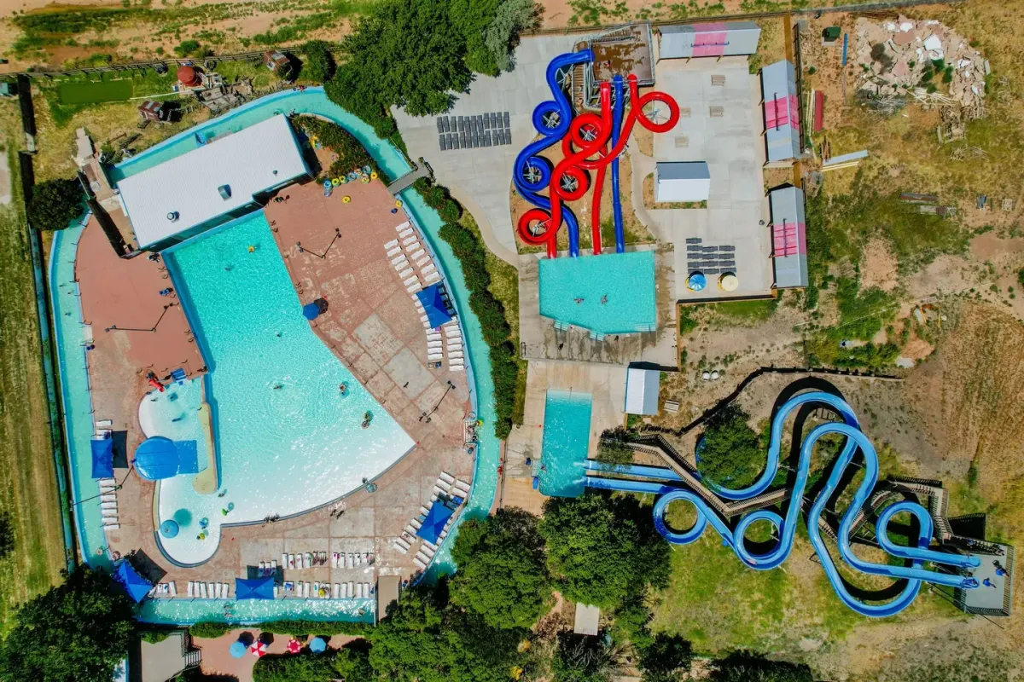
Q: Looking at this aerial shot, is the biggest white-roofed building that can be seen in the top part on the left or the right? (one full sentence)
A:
It is on the left.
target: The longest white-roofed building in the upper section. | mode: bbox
[116,113,316,252]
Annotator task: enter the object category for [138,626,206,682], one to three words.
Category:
building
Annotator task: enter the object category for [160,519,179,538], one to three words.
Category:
fountain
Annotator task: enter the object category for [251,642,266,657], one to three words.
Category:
umbrella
